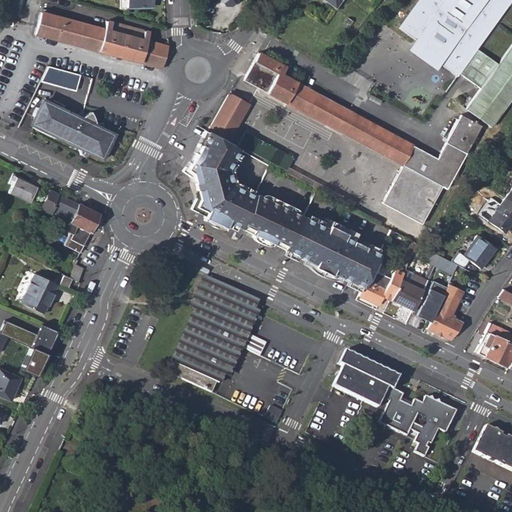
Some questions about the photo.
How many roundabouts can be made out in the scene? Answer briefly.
2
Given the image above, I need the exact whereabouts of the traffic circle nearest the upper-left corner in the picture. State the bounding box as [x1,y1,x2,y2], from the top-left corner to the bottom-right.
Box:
[166,37,232,103]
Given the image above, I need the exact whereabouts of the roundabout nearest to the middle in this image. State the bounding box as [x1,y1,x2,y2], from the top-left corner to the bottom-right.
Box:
[106,178,181,253]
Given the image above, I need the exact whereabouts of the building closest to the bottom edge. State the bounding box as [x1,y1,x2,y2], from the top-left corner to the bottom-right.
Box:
[468,424,512,472]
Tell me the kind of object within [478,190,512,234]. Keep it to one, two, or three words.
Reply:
house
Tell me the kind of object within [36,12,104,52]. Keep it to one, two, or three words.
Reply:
shed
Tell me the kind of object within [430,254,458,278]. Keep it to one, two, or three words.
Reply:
building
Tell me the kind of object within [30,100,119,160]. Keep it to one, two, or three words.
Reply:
building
